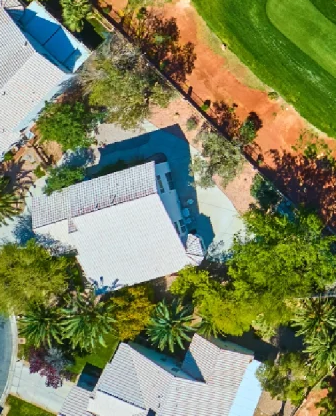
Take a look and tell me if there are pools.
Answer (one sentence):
No, the photo shows no pool.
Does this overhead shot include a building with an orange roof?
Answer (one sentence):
No, there appears to be no building with an orange roof in this shot.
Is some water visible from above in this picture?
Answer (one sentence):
No, there's no water in this view.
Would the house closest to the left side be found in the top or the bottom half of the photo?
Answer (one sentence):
The house closest to the left side sits in the top half of the picture.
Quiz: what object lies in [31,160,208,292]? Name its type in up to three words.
house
